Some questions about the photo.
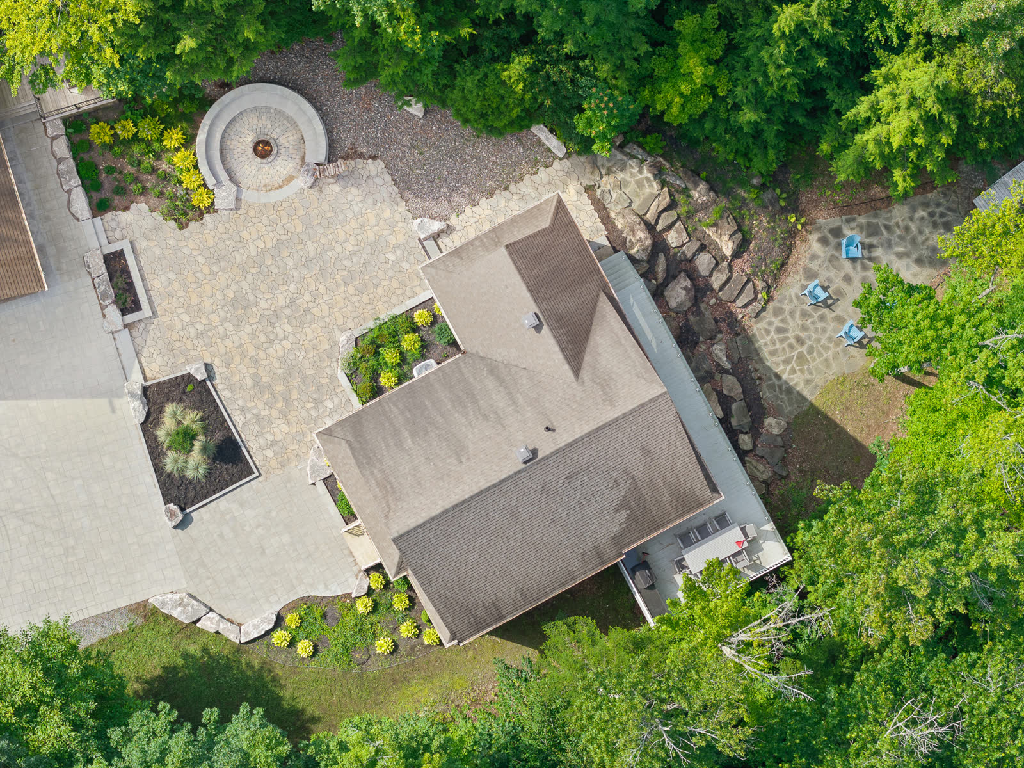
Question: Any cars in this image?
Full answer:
No, no car is visible in the scene.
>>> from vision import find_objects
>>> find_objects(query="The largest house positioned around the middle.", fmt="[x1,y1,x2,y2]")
[315,191,724,650]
